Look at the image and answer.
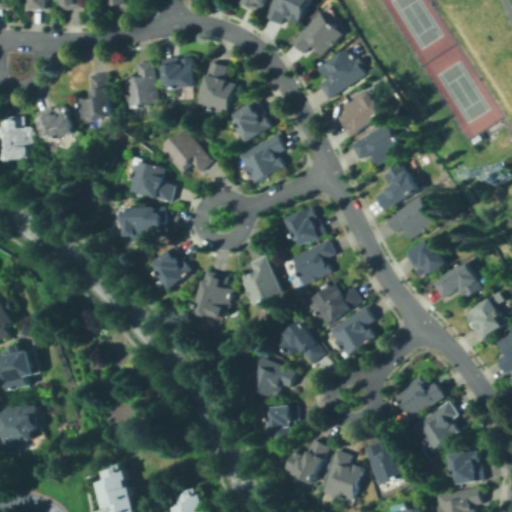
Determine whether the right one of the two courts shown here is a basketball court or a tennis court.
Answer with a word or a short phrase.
tennis court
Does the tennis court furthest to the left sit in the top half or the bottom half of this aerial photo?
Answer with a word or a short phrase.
top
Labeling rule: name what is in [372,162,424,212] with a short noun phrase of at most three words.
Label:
house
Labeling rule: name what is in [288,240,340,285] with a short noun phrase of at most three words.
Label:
house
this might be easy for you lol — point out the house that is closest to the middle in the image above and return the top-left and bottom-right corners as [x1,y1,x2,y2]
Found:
[242,254,284,306]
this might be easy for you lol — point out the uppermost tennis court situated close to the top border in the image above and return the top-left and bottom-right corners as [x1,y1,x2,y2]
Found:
[382,0,460,70]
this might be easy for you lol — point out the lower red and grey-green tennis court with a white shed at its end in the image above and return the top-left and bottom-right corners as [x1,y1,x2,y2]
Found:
[426,48,504,137]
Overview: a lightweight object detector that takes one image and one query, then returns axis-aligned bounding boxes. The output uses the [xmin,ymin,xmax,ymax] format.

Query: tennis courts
[382,0,460,70]
[426,48,504,137]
